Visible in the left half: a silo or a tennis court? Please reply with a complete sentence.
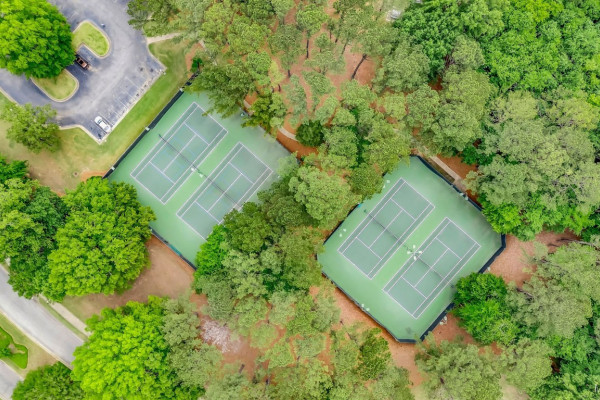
The one visible in the left half is a tennis court.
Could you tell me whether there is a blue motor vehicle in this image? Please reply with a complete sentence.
No, no blue motor vehicle can be seen from above.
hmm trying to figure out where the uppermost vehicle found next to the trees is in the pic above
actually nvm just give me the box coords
[71,52,88,69]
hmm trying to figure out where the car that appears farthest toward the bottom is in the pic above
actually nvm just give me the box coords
[93,115,111,133]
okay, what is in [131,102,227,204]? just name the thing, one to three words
tennis court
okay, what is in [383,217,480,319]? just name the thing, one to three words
tennis court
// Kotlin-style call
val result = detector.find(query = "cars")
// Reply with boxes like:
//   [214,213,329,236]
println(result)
[93,115,111,133]
[71,52,88,69]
